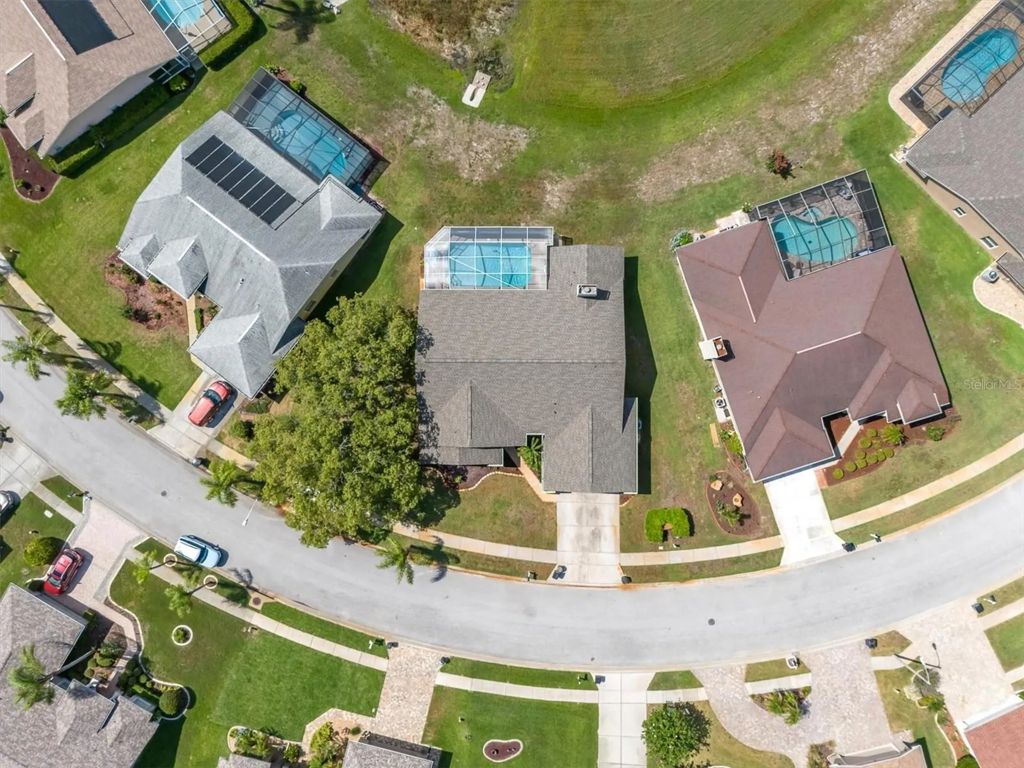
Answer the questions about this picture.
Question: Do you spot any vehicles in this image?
Yes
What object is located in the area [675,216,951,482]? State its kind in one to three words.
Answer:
house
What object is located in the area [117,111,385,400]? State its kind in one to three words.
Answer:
house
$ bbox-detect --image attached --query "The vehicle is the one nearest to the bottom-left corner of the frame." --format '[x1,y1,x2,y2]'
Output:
[45,546,87,597]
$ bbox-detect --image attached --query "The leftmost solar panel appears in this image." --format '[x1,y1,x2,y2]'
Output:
[39,0,115,54]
